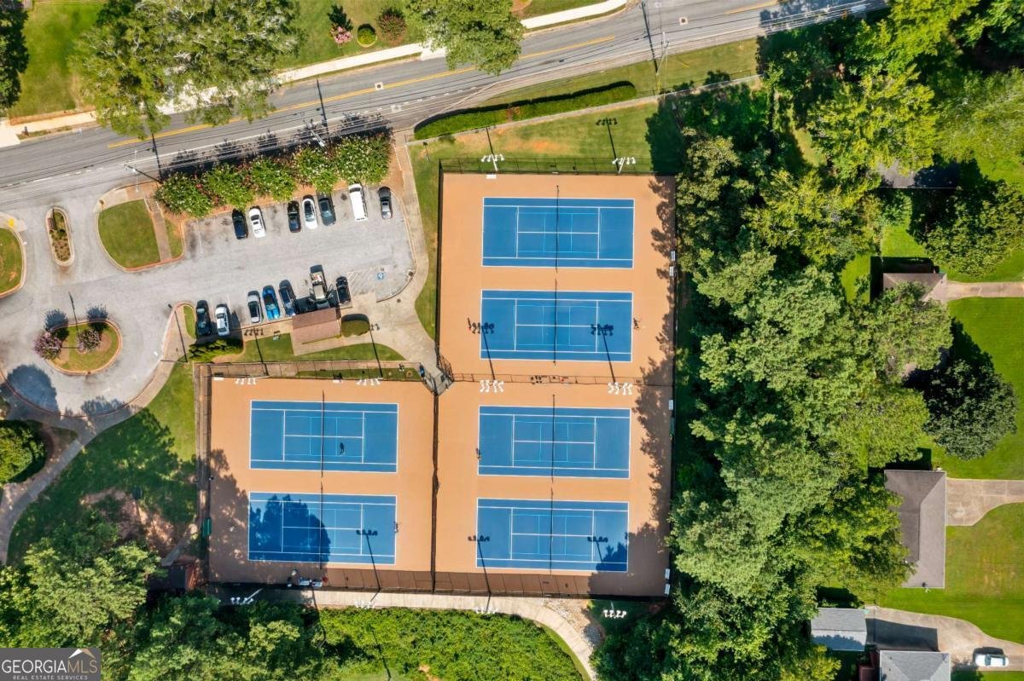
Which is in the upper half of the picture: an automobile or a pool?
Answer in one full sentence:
What appears in the upper half of the picture is an automobile.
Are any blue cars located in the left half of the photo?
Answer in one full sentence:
Yes, a blue car is visible in the left half of the photo.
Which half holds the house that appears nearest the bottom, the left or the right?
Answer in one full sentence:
The house that appears nearest the bottom sits on the right side.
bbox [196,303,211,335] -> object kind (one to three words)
car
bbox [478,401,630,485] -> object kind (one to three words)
tennis court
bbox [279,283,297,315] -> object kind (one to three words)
car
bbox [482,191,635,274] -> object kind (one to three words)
tennis court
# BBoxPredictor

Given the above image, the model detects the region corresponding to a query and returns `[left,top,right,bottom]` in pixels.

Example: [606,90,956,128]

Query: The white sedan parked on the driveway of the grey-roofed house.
[974,652,1008,668]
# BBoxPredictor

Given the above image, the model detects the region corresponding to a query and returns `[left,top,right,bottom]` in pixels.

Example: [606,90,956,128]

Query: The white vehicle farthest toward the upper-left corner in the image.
[248,206,266,238]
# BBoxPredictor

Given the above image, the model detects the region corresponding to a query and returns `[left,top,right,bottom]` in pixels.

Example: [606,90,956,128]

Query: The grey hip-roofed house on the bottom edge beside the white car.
[872,646,951,681]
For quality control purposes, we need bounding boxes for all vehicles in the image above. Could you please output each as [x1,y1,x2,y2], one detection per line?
[279,283,297,315]
[308,265,332,304]
[231,209,248,240]
[336,277,351,307]
[378,187,393,219]
[974,652,1008,668]
[263,287,280,319]
[214,305,231,336]
[318,193,336,225]
[302,196,318,228]
[347,184,367,221]
[248,206,266,238]
[247,292,263,323]
[196,303,211,335]
[286,202,302,231]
